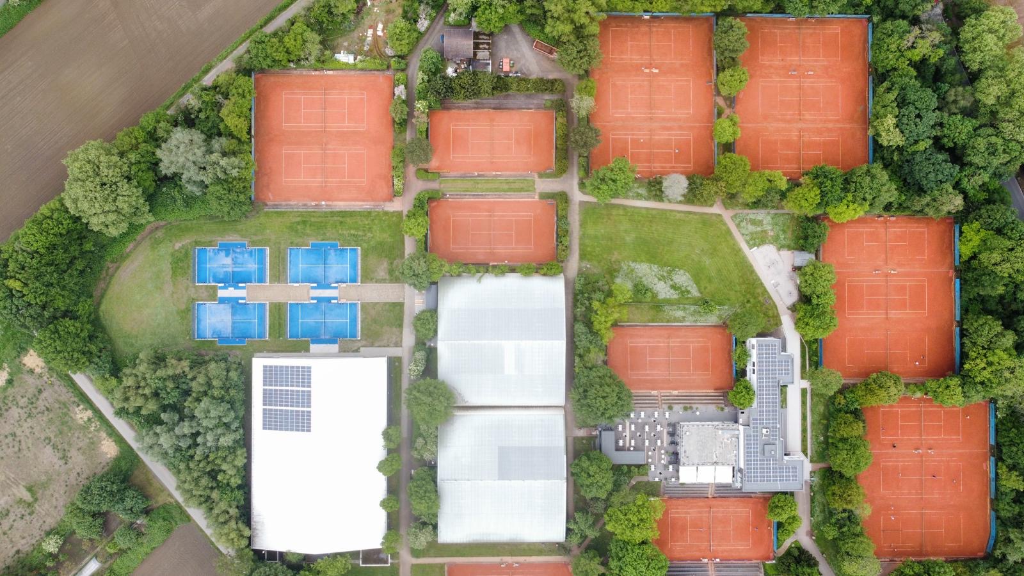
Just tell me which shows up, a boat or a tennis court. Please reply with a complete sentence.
It is a tennis court that can be seen here.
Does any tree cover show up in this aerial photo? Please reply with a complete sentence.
Yes, tree cover can be seen from above here.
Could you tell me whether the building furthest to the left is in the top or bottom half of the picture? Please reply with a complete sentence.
The building furthest to the left sits in the bottom half of the picture.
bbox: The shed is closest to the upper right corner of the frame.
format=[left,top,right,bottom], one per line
[789,252,814,267]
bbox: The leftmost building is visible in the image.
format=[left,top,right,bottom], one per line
[253,356,392,554]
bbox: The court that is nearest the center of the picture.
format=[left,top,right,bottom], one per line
[429,200,556,264]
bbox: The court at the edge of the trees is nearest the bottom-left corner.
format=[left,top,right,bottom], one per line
[191,297,269,345]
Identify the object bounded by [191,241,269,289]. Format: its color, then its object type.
blue sports court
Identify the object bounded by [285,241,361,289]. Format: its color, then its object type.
blue sports court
